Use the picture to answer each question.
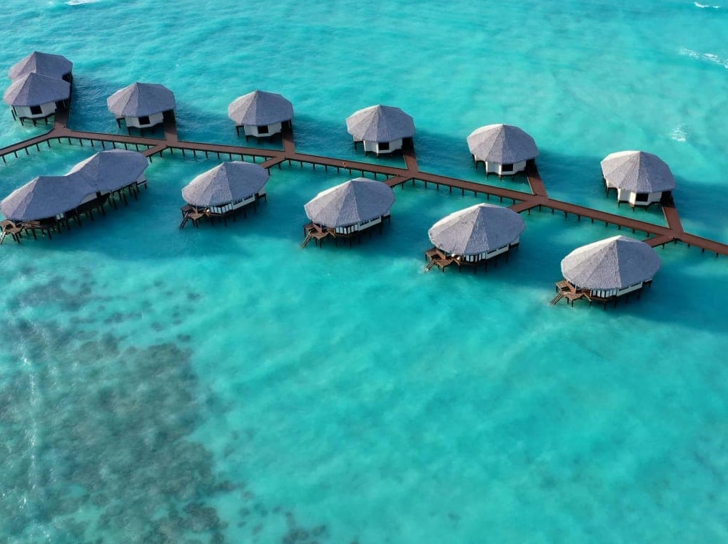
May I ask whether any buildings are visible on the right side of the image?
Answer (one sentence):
Yes, you'll find a building on the right side of the image.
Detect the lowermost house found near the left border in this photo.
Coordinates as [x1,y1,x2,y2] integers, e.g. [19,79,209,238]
[0,146,149,250]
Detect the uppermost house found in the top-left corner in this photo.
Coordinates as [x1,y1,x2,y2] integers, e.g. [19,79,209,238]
[12,48,80,97]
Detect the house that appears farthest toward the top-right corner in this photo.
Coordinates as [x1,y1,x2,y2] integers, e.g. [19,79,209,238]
[601,149,678,215]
